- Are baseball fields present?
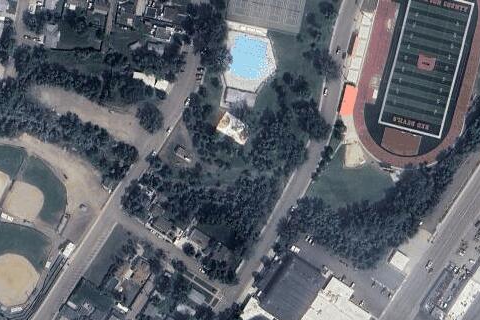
Yes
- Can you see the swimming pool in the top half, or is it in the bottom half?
top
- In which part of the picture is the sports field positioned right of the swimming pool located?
top right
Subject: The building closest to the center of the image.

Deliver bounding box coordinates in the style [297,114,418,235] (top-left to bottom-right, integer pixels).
[218,111,247,140]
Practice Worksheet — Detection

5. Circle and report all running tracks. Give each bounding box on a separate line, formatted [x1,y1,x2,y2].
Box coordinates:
[353,0,480,168]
